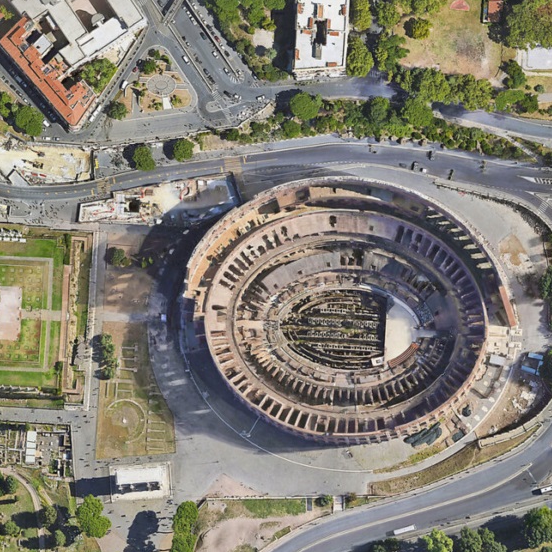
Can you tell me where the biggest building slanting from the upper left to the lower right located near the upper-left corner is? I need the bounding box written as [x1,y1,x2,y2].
[1,16,98,134]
